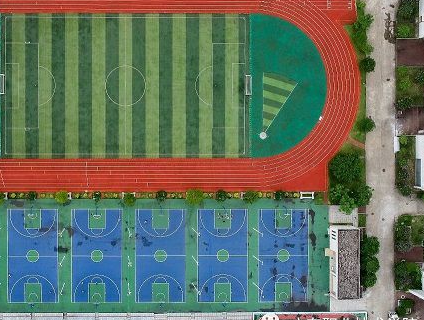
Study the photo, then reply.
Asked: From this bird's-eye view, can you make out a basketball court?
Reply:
Yes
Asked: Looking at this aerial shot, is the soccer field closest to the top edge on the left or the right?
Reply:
left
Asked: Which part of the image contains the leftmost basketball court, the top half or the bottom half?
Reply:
bottom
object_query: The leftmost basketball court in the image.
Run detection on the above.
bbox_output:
[7,209,58,303]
